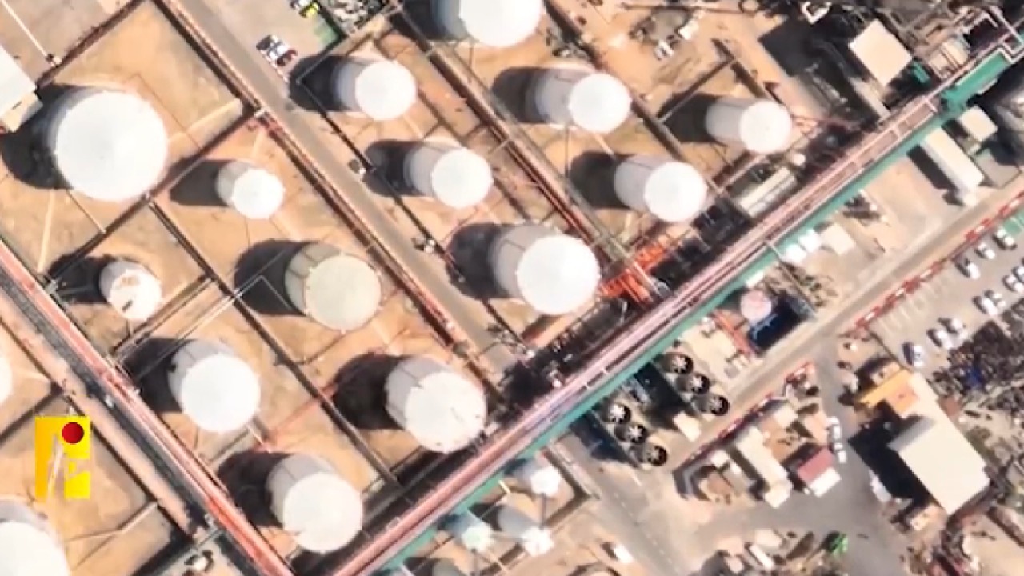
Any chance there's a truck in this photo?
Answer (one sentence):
Yes, a truck is visible in the scene.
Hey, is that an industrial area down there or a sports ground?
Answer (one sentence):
The area seen from above is an industrial area.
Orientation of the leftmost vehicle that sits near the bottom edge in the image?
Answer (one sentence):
The leftmost vehicle that sits near the bottom edge has been laid out at an angle relative to the frame.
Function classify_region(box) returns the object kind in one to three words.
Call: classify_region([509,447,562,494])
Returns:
storage tank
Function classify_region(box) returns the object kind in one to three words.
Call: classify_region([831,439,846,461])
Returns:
car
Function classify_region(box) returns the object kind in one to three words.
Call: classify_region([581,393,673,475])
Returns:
cooling tower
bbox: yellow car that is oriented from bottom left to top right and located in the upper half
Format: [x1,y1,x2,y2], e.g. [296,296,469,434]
[299,1,320,20]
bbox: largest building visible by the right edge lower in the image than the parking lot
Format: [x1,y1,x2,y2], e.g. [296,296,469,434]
[872,418,991,515]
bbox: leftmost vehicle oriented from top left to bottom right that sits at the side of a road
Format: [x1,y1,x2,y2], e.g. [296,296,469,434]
[611,539,634,566]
